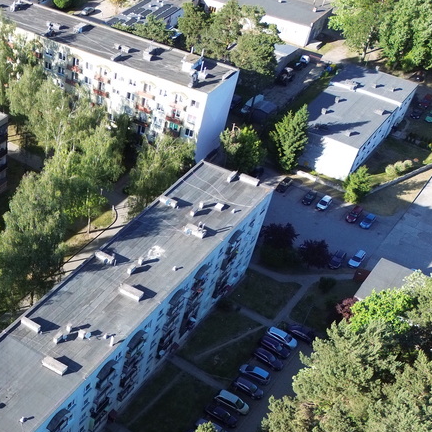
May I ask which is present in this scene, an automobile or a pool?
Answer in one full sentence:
Looking from above, you can make out an automobile.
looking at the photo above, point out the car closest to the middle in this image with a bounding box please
[274,175,294,194]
